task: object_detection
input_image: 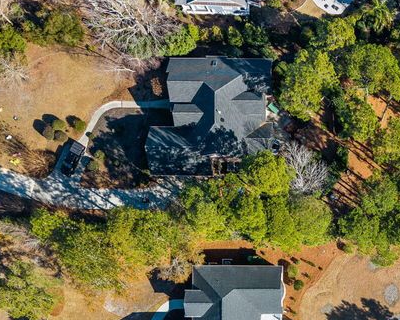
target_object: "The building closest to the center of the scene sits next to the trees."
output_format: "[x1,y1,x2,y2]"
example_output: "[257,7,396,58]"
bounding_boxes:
[138,57,280,176]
